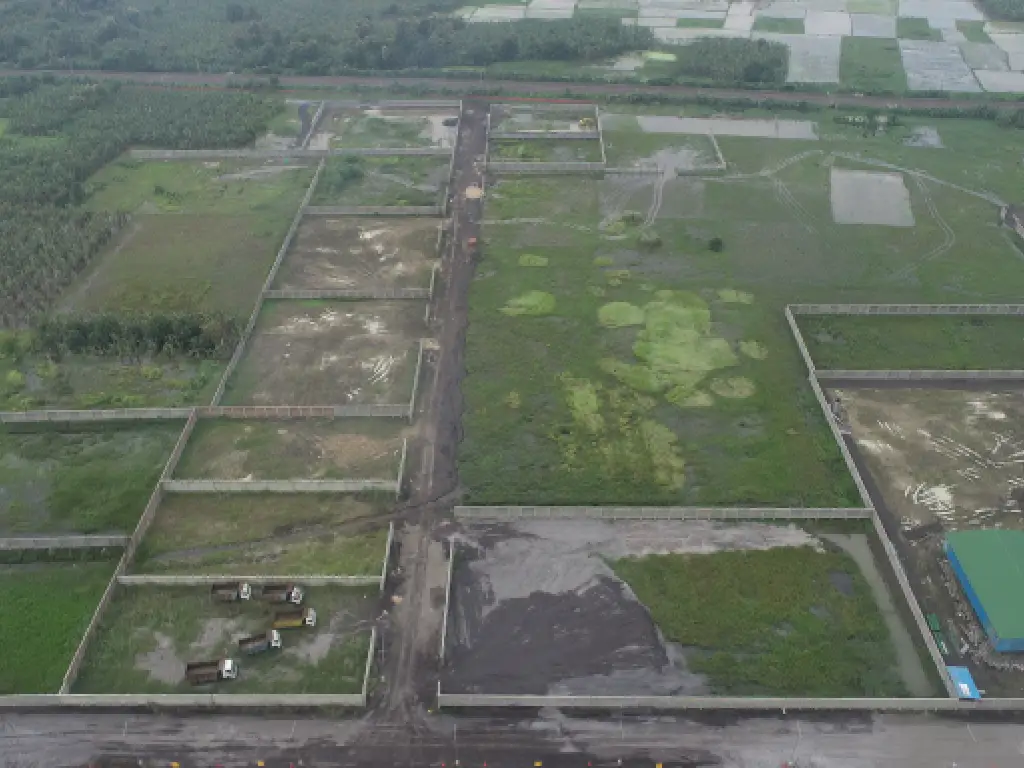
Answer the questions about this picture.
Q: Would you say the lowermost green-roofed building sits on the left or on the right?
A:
right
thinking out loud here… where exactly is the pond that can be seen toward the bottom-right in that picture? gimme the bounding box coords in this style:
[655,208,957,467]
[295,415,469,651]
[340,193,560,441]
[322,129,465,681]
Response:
[836,532,935,696]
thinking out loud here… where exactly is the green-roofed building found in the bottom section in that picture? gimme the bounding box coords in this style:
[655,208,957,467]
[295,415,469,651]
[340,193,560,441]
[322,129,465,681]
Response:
[943,529,1024,652]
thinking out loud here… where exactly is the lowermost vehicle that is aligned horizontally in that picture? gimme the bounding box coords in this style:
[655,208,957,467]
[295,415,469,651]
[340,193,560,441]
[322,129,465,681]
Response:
[180,656,240,686]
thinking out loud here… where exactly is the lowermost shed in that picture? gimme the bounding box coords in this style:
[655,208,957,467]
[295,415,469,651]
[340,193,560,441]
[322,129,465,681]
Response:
[947,667,980,698]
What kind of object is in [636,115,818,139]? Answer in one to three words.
pond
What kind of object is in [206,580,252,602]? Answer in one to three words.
truck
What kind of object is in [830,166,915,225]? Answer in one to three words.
pond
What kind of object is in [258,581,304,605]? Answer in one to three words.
truck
